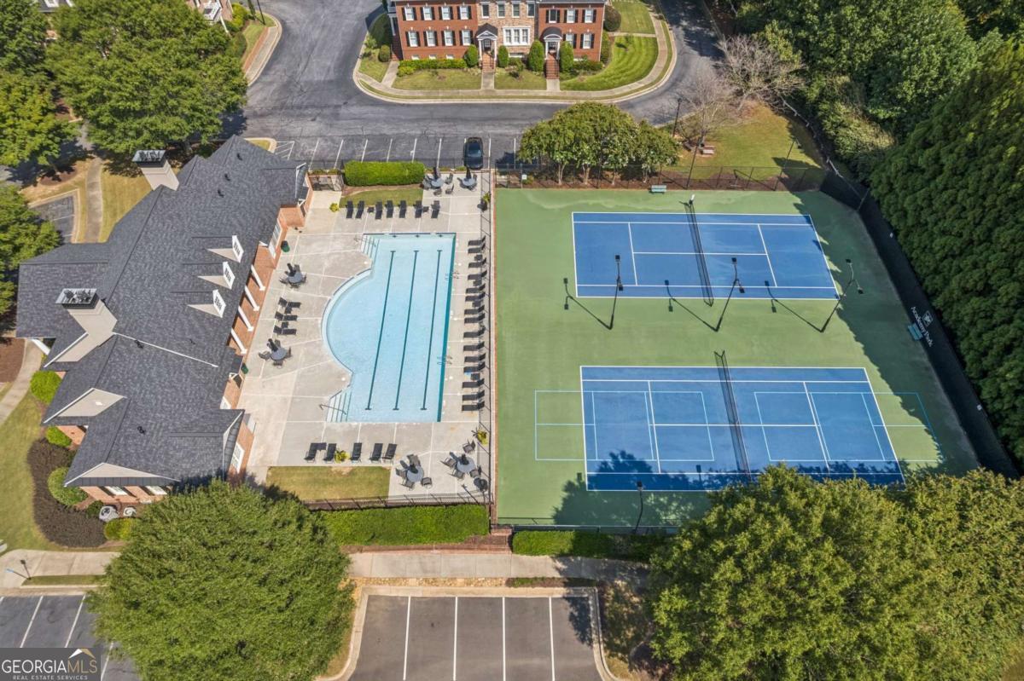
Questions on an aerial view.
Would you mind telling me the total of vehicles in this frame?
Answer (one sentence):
Just 1 vehicle appears in this view.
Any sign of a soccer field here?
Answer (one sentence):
No, there isn't any soccer field down there.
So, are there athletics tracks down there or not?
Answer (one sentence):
No, the frame has no athletics track in it.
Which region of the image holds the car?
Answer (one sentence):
Look in the top portion of the view to spot the car.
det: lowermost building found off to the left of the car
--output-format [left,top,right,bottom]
[14,135,315,501]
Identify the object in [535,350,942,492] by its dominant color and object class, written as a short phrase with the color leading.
blue tennis court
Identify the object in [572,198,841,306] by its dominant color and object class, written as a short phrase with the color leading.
blue tennis court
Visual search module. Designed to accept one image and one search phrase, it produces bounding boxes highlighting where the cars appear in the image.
[462,135,484,168]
